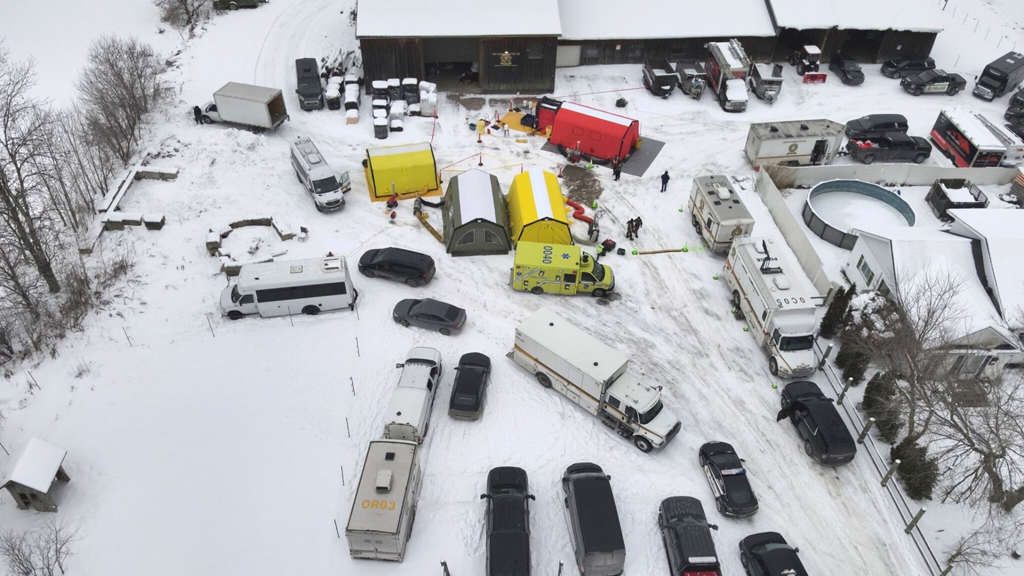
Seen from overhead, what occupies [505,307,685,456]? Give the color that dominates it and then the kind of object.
white truck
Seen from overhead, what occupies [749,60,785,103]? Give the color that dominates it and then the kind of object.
gray trailer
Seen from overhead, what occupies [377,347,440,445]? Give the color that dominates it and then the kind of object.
white truck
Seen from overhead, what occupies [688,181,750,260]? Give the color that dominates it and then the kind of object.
gray trailer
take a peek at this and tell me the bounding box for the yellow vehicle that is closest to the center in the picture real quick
[509,243,615,296]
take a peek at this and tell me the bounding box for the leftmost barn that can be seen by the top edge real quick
[349,0,565,94]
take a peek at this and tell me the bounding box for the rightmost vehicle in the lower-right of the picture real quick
[780,385,854,463]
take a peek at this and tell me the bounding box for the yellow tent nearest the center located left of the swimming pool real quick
[505,166,577,248]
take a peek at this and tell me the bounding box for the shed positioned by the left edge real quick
[0,442,75,513]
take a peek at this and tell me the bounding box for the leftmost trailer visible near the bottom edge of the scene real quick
[350,443,421,565]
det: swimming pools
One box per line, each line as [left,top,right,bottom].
[802,178,923,249]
